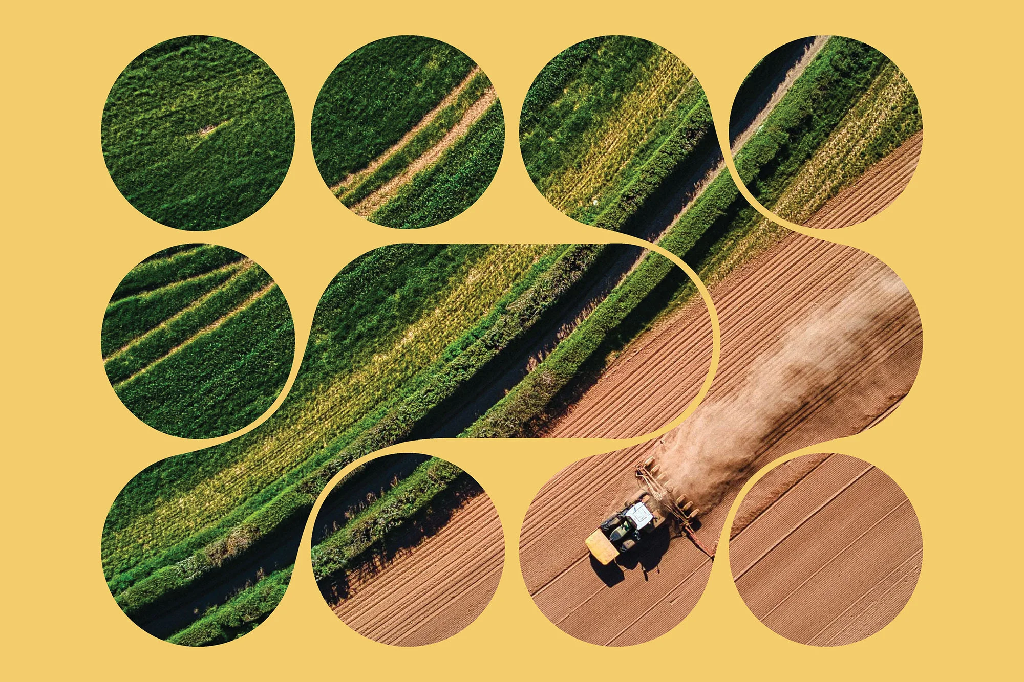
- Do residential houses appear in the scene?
No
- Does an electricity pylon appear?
No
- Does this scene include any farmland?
Yes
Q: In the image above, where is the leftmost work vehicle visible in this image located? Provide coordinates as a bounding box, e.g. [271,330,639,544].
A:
[586,484,671,566]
